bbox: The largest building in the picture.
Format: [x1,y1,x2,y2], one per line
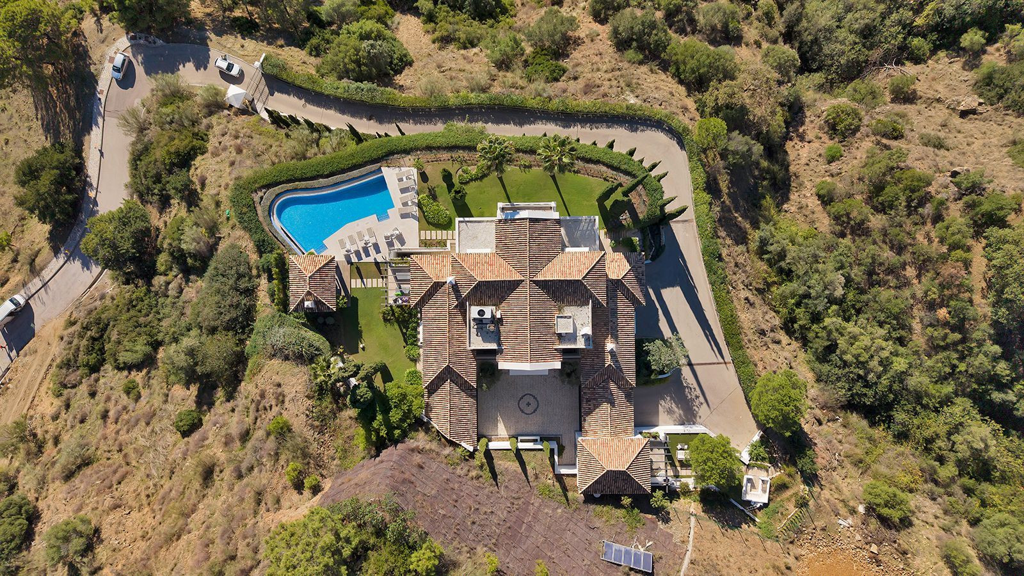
[409,199,652,495]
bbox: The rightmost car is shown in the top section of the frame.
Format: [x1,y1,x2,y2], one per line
[209,51,246,79]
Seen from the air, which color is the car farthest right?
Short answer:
white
